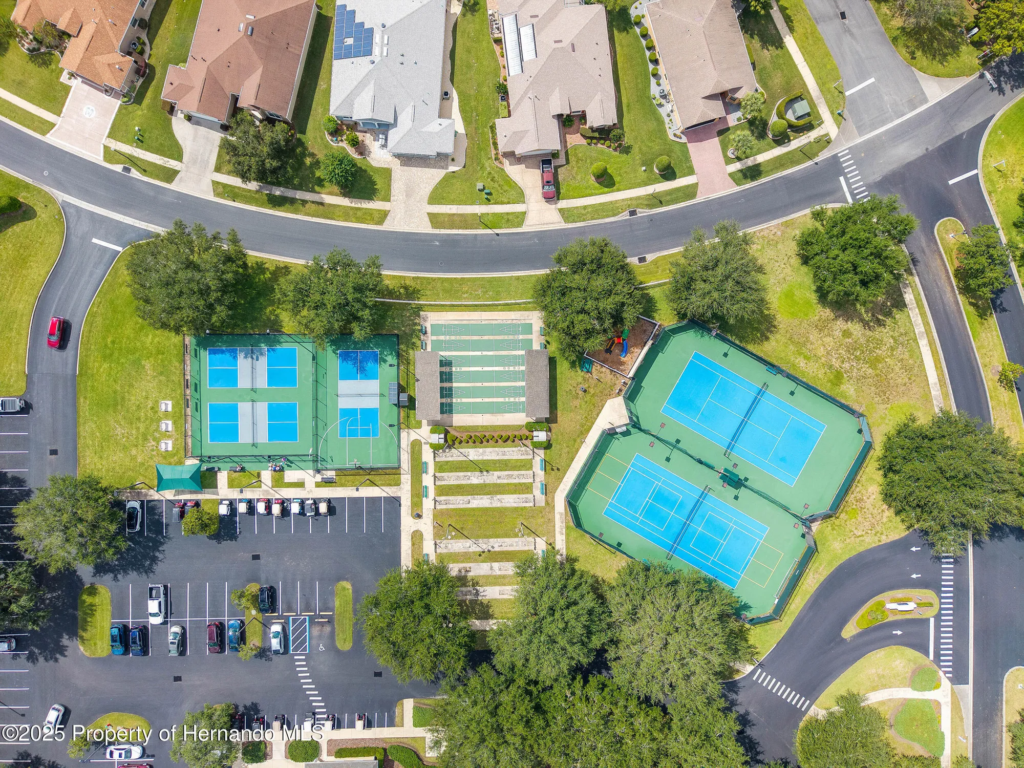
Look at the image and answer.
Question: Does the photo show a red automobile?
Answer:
Yes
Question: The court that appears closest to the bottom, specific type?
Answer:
tennis court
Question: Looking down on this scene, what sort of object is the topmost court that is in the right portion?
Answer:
tennis court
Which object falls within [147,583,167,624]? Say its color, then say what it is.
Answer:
white vehicle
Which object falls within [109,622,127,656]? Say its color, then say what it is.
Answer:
blue car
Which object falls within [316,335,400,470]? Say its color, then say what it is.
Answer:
green basketball court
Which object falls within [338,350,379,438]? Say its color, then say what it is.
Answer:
blue sports court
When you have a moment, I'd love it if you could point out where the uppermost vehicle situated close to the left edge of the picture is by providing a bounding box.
[46,316,67,349]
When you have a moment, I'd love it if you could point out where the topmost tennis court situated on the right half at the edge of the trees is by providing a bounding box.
[624,321,863,518]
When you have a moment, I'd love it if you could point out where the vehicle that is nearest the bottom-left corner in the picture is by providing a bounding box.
[43,700,66,734]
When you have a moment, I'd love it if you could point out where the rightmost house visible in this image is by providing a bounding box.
[643,0,756,134]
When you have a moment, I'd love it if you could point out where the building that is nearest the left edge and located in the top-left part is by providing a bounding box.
[10,0,150,93]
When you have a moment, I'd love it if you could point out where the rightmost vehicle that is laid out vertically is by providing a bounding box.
[540,158,557,200]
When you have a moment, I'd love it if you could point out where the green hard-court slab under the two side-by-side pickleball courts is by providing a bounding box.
[191,334,317,470]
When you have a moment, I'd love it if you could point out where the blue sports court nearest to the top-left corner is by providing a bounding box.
[207,347,298,389]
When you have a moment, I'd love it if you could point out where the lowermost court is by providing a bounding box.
[566,423,808,619]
